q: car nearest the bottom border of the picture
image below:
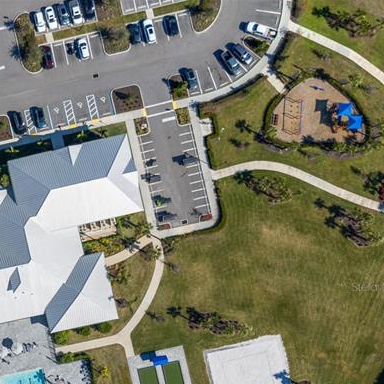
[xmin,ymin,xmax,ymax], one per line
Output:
[155,210,177,223]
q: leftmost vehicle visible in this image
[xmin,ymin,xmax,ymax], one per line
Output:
[12,111,24,133]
